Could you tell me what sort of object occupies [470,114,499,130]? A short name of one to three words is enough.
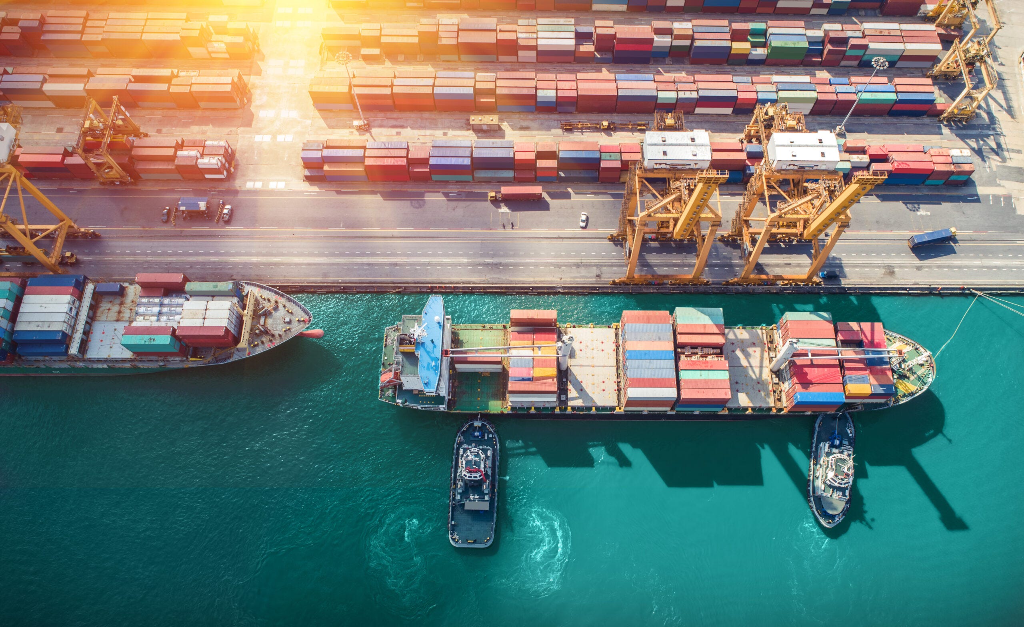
shed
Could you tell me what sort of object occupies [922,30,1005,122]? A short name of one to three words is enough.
container crane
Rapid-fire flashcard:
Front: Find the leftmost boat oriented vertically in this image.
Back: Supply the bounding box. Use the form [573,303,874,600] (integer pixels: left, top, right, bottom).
[453,420,499,548]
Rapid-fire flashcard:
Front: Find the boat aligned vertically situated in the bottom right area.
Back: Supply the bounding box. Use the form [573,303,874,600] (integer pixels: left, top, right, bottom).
[807,415,861,531]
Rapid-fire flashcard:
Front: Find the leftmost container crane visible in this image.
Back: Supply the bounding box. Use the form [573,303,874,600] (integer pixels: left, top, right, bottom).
[0,93,103,278]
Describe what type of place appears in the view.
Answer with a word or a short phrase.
port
